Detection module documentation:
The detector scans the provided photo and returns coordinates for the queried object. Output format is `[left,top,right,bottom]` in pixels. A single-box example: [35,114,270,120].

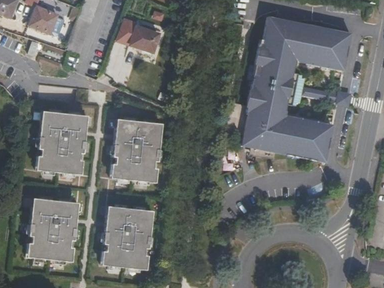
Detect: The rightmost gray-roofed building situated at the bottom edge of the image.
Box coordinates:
[100,206,156,276]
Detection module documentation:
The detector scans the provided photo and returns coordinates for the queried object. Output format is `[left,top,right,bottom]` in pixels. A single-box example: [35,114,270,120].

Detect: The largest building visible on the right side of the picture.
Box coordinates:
[241,17,351,163]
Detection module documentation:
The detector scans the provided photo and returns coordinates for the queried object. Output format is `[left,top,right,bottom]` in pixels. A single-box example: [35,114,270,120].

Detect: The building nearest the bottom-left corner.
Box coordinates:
[26,198,81,268]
